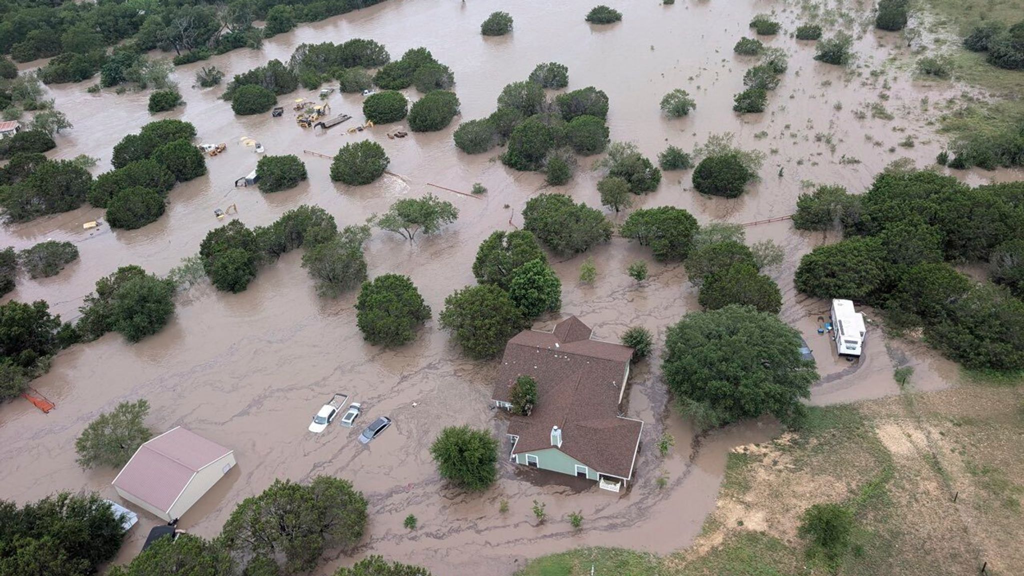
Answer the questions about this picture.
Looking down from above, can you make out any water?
Yes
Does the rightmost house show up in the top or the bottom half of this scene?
bottom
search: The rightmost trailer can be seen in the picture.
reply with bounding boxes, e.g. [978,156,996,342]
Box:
[830,299,867,363]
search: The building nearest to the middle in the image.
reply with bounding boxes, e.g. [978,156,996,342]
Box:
[490,314,645,492]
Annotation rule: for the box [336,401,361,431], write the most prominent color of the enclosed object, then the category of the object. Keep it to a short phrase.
white car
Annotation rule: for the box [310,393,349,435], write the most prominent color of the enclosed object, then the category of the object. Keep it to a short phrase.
white truck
